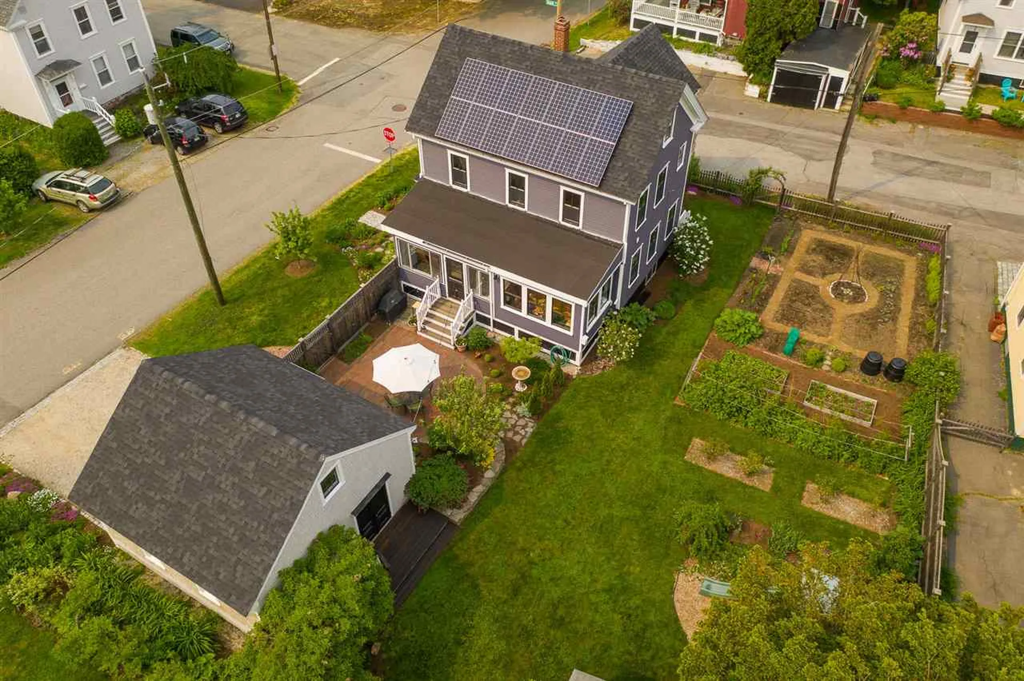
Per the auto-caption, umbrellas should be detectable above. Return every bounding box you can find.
[367,343,446,399]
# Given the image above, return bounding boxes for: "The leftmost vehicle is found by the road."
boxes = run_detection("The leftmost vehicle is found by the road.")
[22,161,122,213]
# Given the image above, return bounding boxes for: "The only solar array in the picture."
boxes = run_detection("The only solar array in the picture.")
[435,55,633,184]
